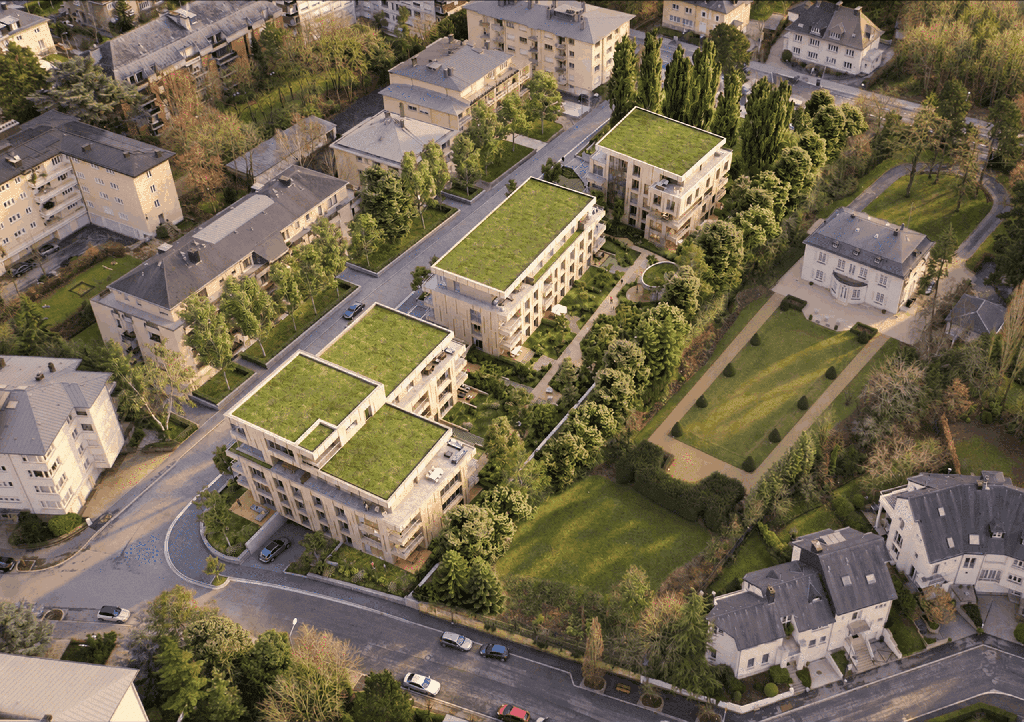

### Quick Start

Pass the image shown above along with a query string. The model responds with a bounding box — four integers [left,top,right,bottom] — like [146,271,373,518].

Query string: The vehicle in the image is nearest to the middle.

[341,301,368,320]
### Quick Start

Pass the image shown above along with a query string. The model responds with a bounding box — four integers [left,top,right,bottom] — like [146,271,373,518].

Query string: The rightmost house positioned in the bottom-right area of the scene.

[870,462,1024,607]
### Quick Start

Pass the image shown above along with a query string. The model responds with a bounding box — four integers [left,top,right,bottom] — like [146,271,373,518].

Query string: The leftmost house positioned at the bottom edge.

[0,653,146,722]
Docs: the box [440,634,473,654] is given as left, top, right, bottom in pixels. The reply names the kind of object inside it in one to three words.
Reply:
car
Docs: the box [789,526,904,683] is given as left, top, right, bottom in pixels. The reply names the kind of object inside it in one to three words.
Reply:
house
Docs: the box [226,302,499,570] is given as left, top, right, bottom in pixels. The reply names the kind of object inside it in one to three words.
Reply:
building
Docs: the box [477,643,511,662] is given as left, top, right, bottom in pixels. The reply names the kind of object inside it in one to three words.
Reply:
car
